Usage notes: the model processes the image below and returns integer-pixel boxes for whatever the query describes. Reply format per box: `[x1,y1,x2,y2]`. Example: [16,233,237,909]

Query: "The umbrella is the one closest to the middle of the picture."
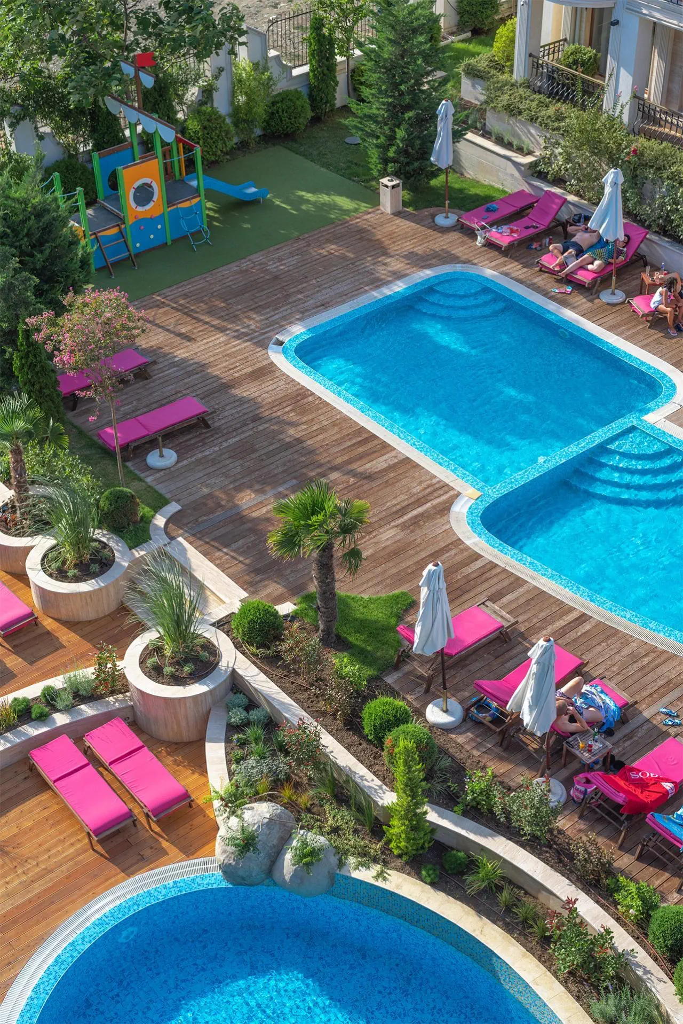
[407,558,462,727]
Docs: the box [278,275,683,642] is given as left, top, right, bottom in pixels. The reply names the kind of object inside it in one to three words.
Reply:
swimming pool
